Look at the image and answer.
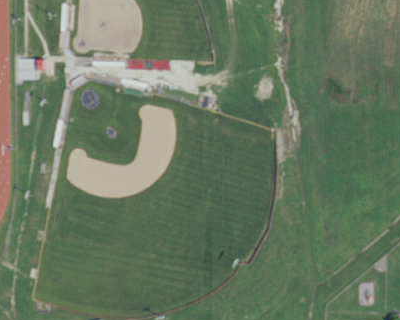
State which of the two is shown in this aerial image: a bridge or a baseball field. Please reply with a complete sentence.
Looking from above, you can make out a baseball field.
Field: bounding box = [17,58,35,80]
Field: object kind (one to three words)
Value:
building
